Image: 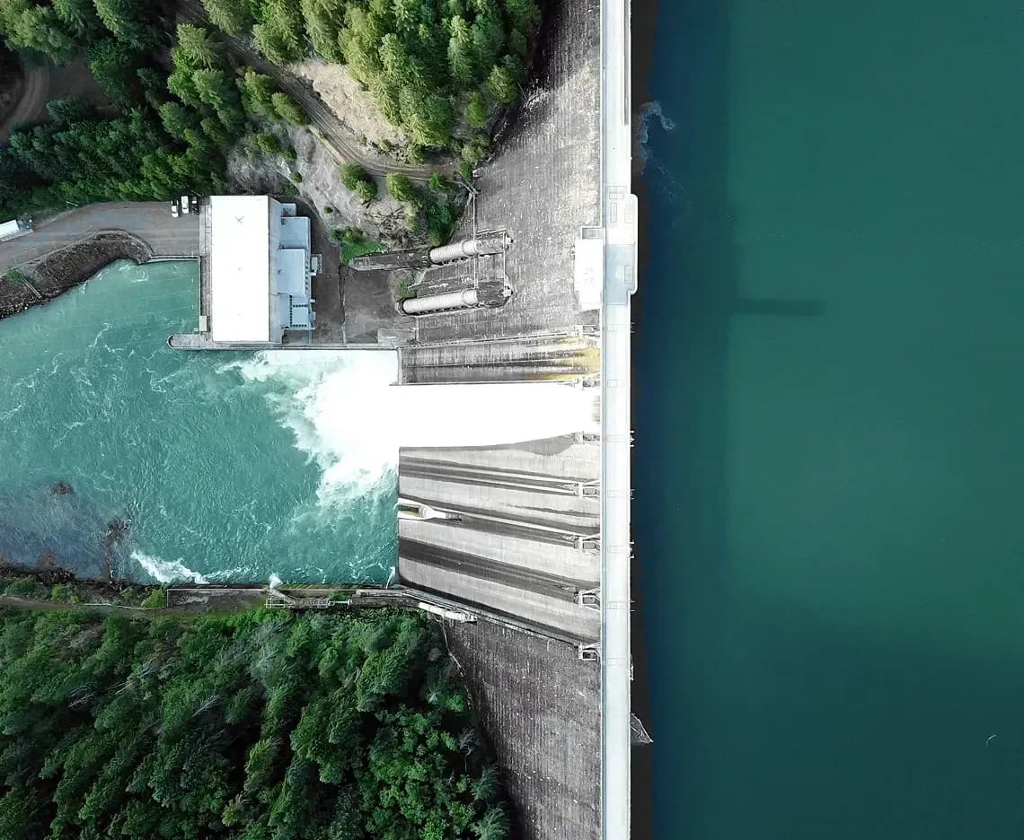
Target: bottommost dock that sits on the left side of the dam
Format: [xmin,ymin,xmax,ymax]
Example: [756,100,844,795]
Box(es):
[171,334,221,351]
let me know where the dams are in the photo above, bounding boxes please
[384,0,637,840]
